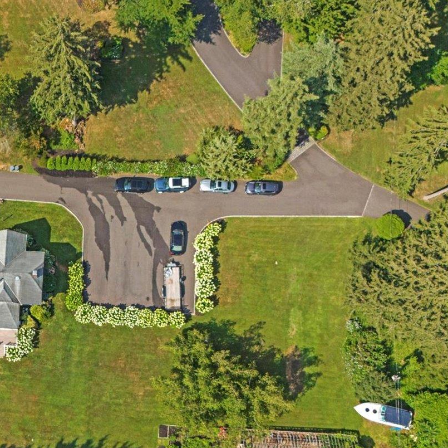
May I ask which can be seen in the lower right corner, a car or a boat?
boat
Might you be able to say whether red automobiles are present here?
No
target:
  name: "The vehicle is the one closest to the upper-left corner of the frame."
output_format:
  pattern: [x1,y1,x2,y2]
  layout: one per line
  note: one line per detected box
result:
[113,176,150,194]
